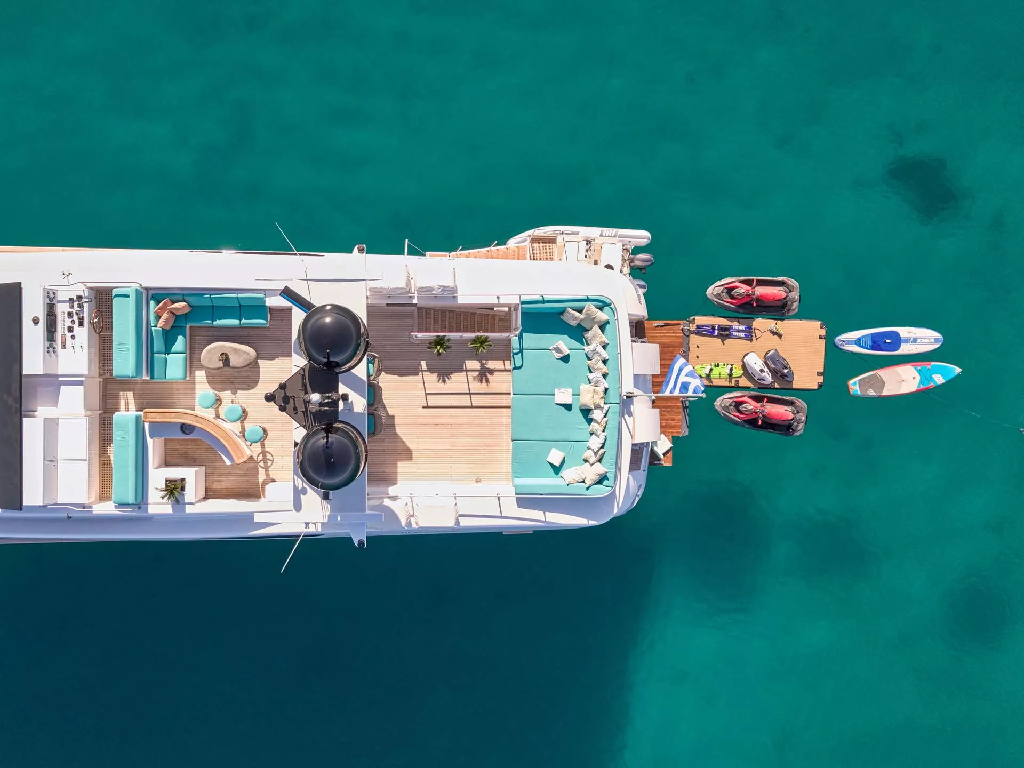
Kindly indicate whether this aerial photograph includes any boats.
Yes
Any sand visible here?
No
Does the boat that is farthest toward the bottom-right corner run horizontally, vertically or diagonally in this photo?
horizontally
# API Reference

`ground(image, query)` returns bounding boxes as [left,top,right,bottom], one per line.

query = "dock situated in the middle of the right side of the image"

[680,316,825,389]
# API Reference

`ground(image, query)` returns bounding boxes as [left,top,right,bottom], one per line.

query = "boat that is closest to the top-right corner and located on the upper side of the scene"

[704,276,802,314]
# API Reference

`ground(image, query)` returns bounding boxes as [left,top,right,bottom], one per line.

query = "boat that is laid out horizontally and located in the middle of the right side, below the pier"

[712,391,811,433]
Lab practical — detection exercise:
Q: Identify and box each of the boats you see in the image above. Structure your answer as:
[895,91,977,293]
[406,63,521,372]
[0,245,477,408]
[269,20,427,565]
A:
[0,223,689,574]
[704,276,802,314]
[712,391,811,433]
[510,225,655,293]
